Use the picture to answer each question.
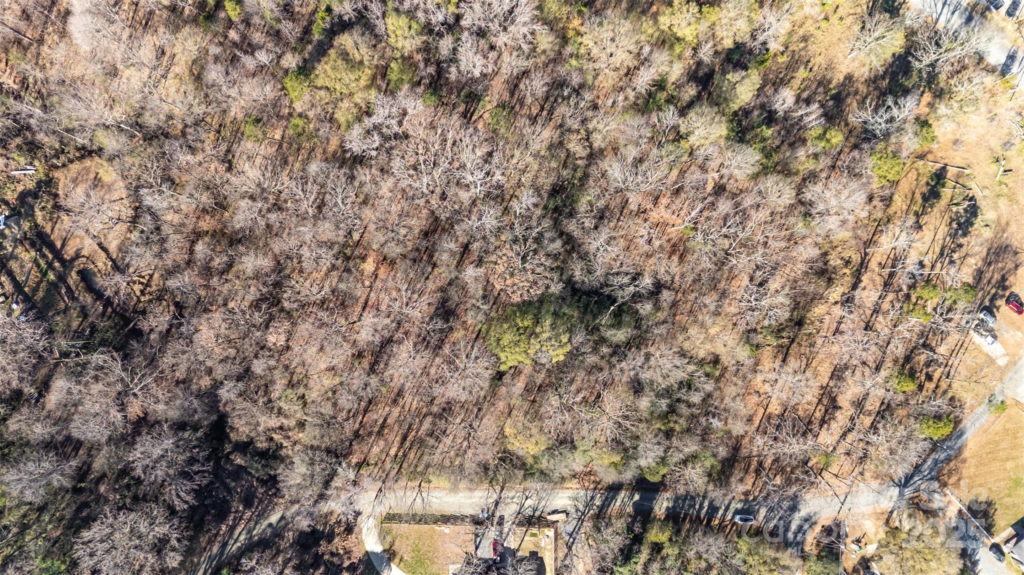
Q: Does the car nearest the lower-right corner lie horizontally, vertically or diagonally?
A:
diagonally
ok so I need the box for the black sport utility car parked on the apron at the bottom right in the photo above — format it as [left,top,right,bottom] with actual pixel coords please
[991,545,1011,565]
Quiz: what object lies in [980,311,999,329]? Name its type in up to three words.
car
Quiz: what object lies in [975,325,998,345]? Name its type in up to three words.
vehicle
